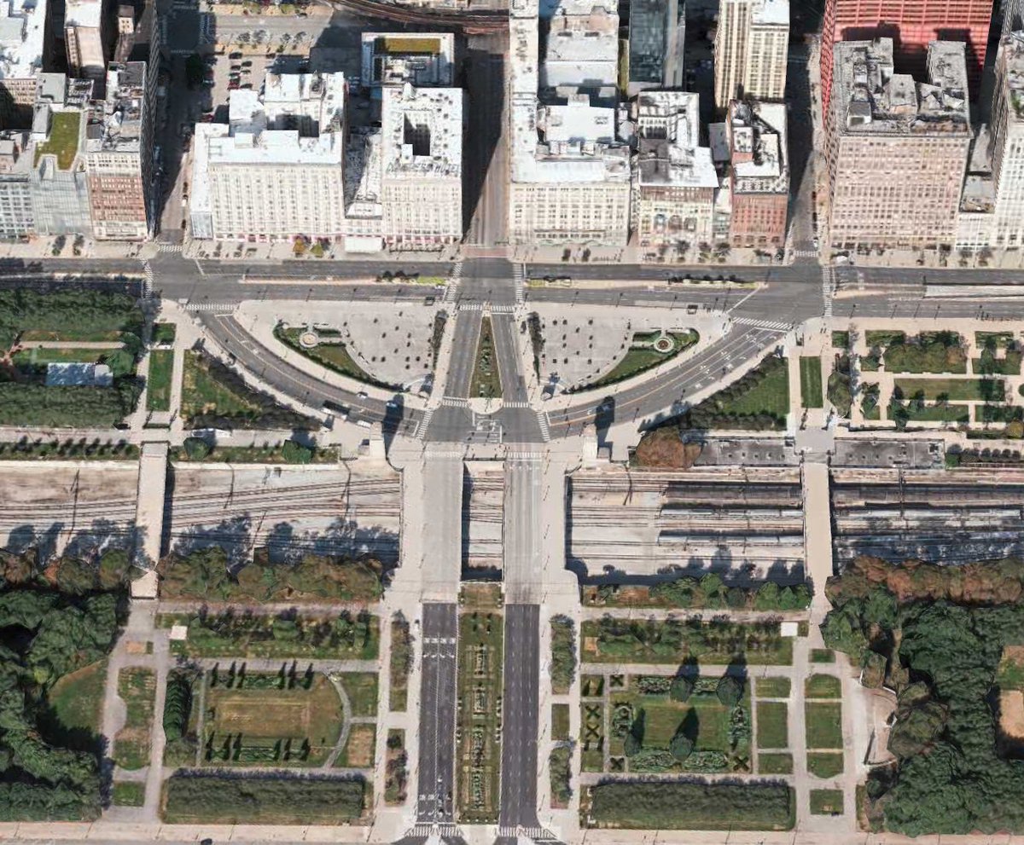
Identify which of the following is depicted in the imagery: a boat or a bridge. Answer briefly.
bridge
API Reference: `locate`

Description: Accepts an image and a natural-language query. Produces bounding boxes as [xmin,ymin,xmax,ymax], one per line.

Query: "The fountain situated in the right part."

[655,336,673,350]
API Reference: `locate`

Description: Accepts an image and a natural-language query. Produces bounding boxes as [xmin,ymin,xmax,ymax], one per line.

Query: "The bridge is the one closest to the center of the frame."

[386,443,583,605]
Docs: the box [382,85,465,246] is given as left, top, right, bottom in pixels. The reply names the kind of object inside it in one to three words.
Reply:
building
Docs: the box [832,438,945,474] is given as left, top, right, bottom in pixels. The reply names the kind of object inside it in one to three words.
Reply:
building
